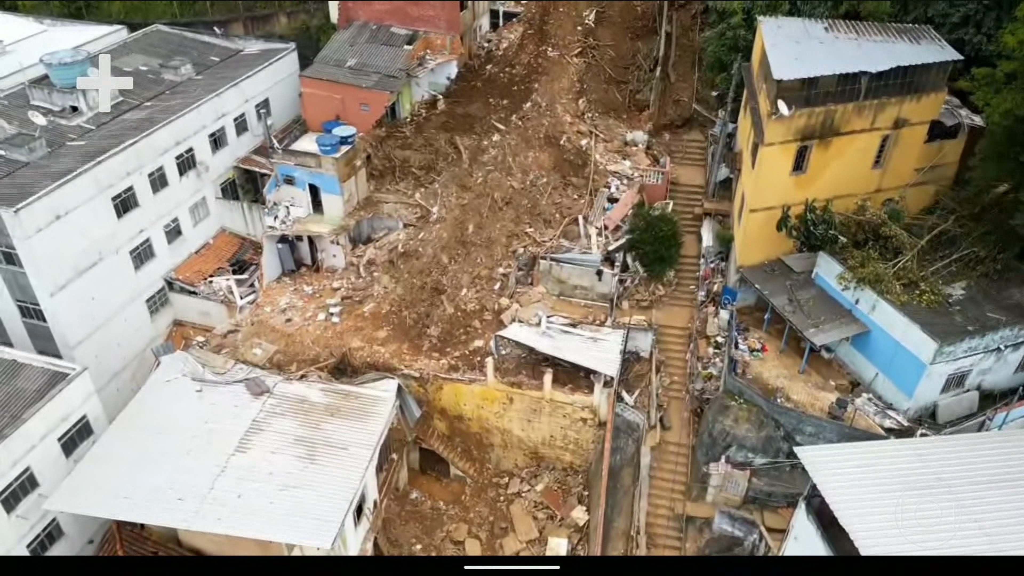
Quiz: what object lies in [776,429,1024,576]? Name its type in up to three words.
house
